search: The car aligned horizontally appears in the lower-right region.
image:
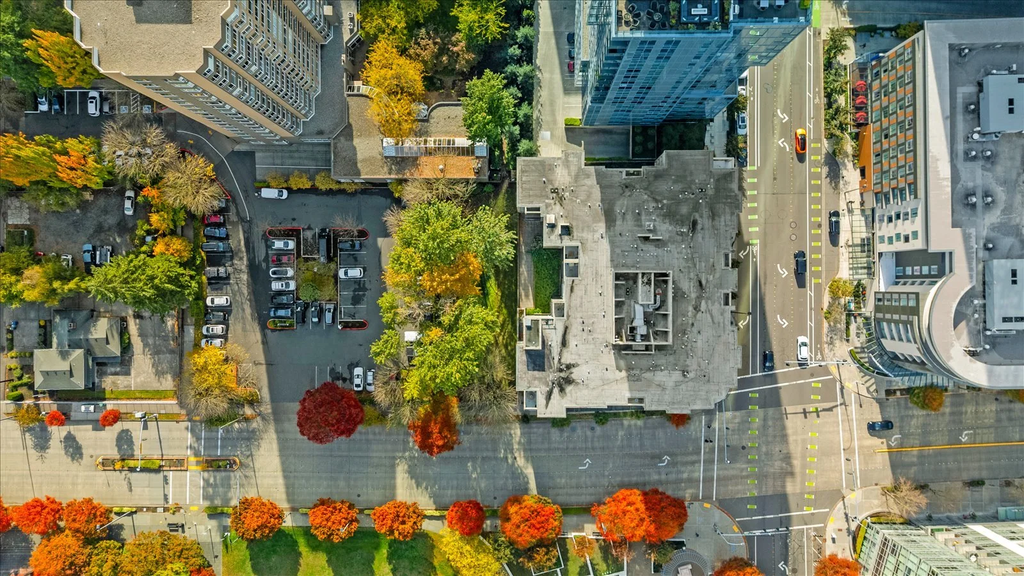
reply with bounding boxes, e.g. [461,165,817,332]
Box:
[866,420,893,432]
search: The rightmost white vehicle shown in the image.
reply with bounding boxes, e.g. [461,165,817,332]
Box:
[796,337,810,361]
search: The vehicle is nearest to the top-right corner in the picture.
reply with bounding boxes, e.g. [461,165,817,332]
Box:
[794,129,807,153]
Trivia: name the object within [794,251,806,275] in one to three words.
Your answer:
vehicle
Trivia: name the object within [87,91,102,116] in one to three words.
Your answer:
car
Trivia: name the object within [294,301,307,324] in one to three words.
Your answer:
vehicle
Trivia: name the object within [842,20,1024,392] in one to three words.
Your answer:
building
